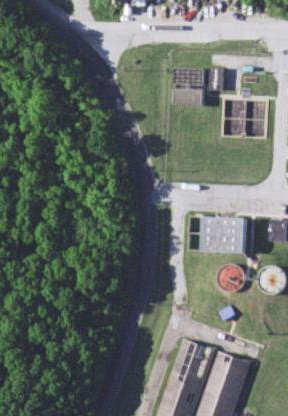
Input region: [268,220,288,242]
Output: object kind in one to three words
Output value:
building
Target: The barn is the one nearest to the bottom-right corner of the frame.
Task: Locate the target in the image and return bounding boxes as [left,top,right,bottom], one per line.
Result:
[199,352,250,416]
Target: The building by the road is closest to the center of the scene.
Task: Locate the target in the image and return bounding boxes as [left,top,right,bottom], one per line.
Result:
[200,217,245,254]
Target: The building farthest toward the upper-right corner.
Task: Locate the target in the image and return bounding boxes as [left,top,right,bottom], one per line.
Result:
[210,67,224,91]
